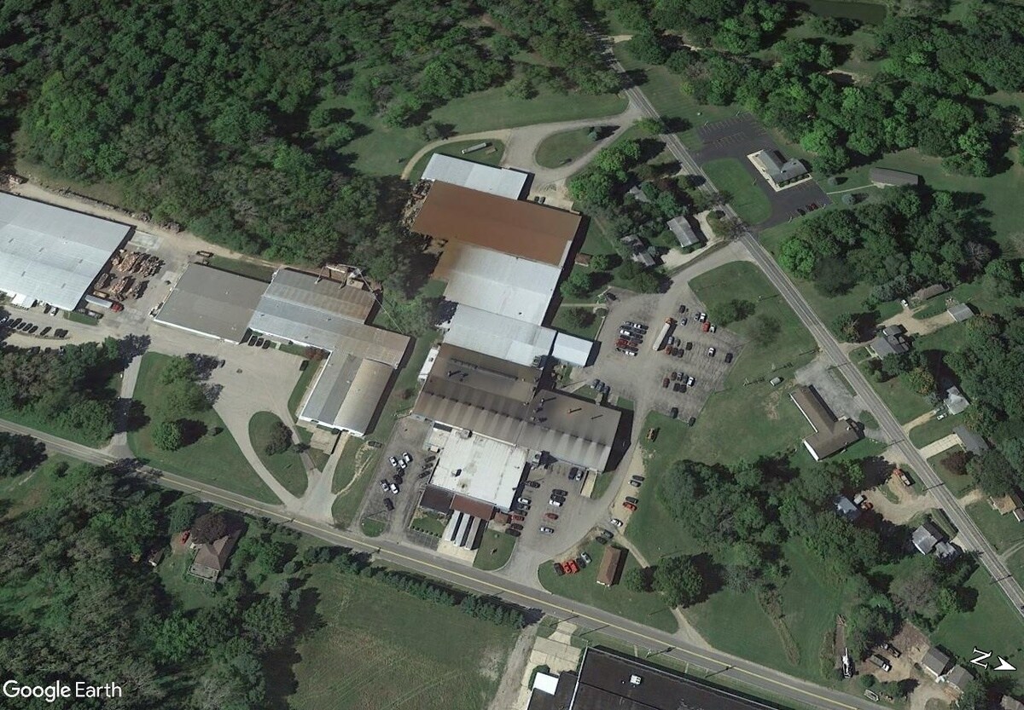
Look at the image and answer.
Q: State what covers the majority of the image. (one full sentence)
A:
For the most part, this view shows trees.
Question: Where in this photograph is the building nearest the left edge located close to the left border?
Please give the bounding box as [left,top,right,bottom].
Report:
[0,193,131,311]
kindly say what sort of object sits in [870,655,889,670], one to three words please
vehicle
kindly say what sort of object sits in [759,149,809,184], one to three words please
building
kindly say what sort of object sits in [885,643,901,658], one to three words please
vehicle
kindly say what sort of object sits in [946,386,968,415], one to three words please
house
